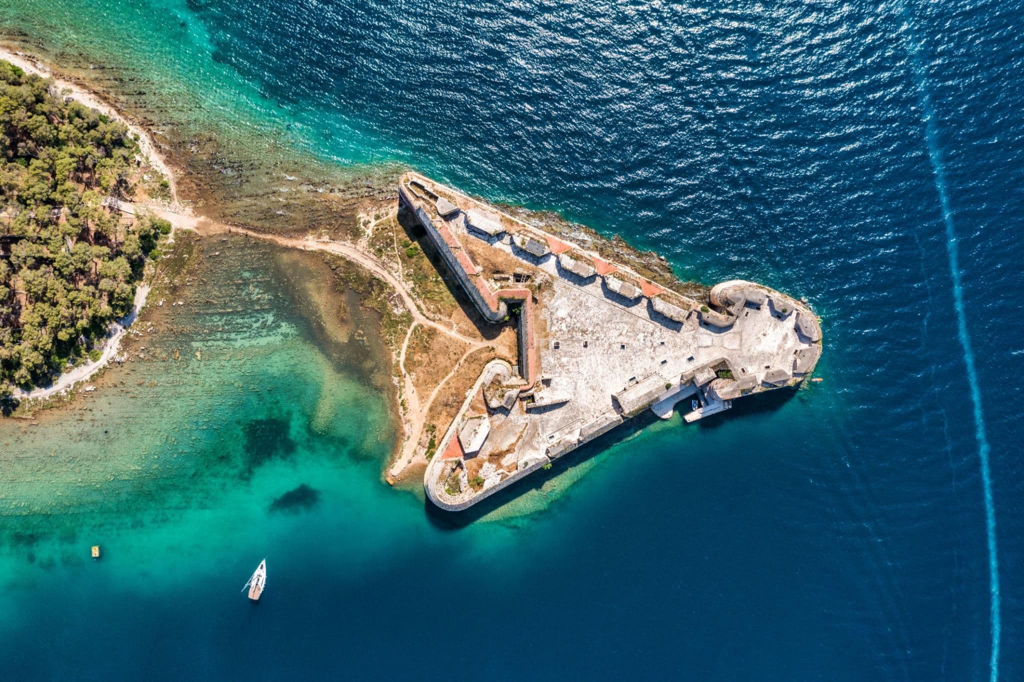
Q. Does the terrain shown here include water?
Yes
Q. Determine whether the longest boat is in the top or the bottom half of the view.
bottom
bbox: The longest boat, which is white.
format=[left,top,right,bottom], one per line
[244,558,267,601]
